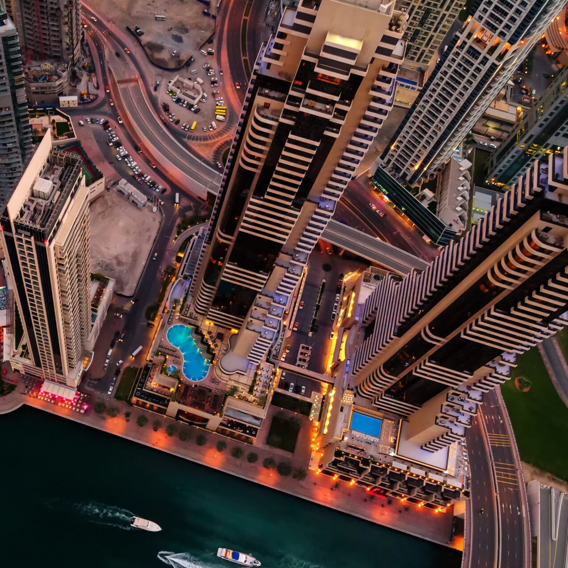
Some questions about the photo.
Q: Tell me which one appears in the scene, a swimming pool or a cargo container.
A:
swimming pool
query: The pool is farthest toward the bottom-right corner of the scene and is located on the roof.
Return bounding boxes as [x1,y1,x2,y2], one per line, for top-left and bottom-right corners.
[350,413,382,436]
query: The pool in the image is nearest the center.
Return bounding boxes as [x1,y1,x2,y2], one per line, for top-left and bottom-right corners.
[167,324,211,381]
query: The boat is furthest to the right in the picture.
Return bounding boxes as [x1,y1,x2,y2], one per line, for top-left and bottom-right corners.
[218,547,261,566]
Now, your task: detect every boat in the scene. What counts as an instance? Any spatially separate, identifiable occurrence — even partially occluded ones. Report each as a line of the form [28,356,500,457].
[218,547,261,566]
[131,518,161,530]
